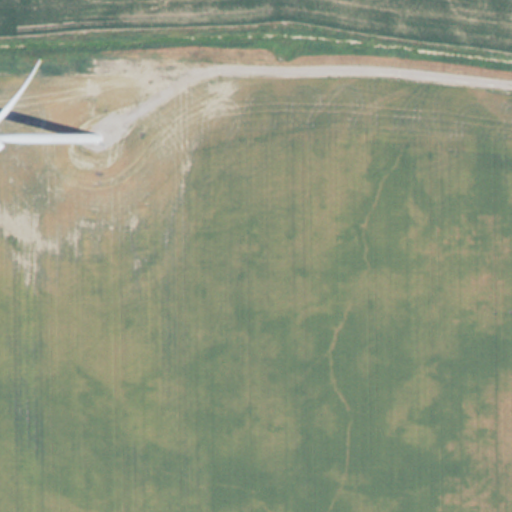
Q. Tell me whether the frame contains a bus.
No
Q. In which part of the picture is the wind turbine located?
top left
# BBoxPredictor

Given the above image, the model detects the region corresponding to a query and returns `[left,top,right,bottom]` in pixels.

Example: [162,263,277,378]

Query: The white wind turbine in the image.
[0,61,106,152]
